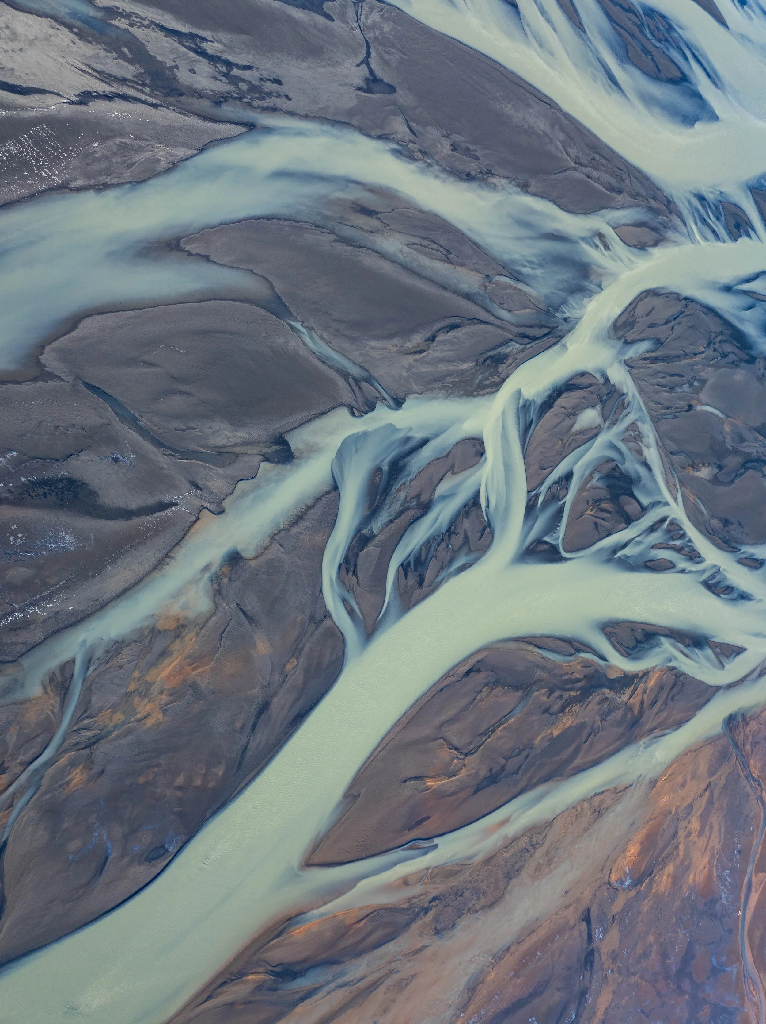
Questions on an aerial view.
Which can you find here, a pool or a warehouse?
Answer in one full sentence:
The one in the frame is a pool.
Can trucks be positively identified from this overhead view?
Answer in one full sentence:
No, no truck is visible in the view.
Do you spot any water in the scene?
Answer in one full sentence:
Yes, water shows up in the scene.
